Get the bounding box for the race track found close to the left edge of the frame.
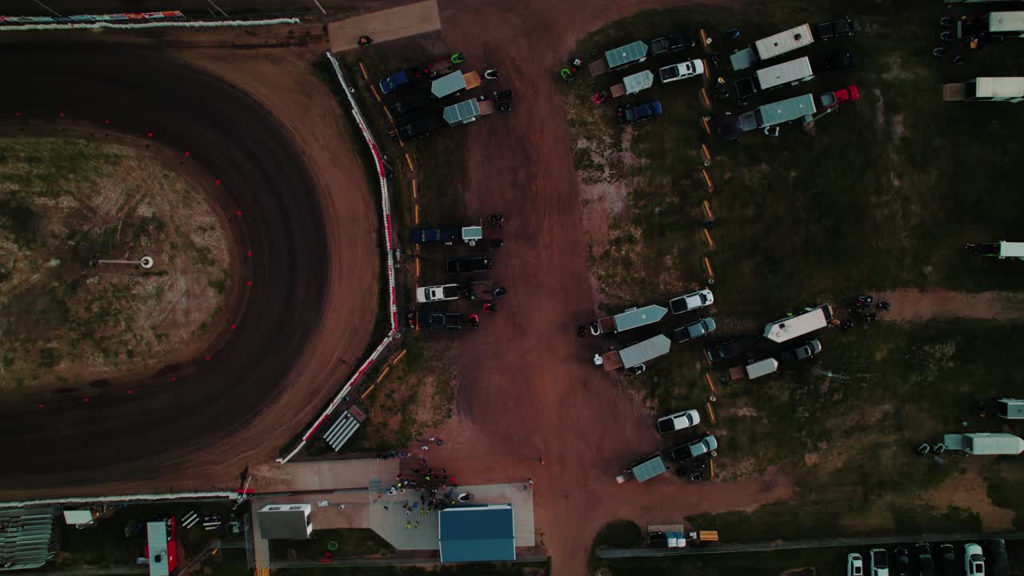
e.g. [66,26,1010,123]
[0,24,377,503]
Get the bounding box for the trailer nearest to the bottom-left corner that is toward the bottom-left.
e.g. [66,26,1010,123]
[146,512,185,576]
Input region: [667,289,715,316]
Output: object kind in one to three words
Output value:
truck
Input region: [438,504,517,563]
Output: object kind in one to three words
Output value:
building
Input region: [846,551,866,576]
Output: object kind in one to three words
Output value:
car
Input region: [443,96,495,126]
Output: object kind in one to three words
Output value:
trailer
